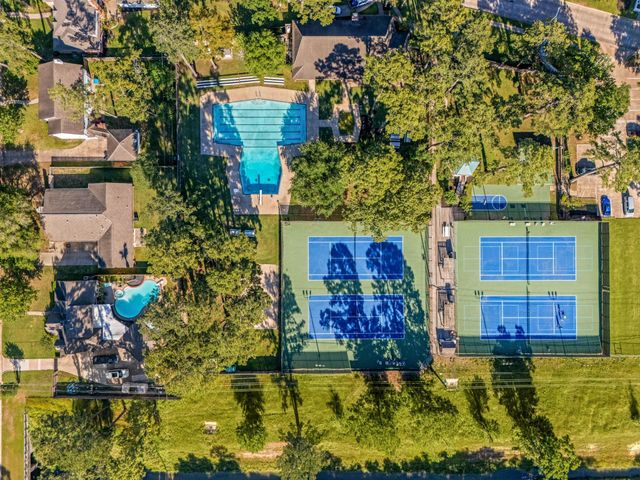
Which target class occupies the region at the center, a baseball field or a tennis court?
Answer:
tennis court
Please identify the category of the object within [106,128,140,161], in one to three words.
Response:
building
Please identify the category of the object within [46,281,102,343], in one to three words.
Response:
house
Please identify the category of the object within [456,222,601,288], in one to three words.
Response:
tennis court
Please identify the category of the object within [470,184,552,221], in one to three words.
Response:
basketball court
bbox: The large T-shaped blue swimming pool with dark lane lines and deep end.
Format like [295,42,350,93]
[213,90,307,196]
